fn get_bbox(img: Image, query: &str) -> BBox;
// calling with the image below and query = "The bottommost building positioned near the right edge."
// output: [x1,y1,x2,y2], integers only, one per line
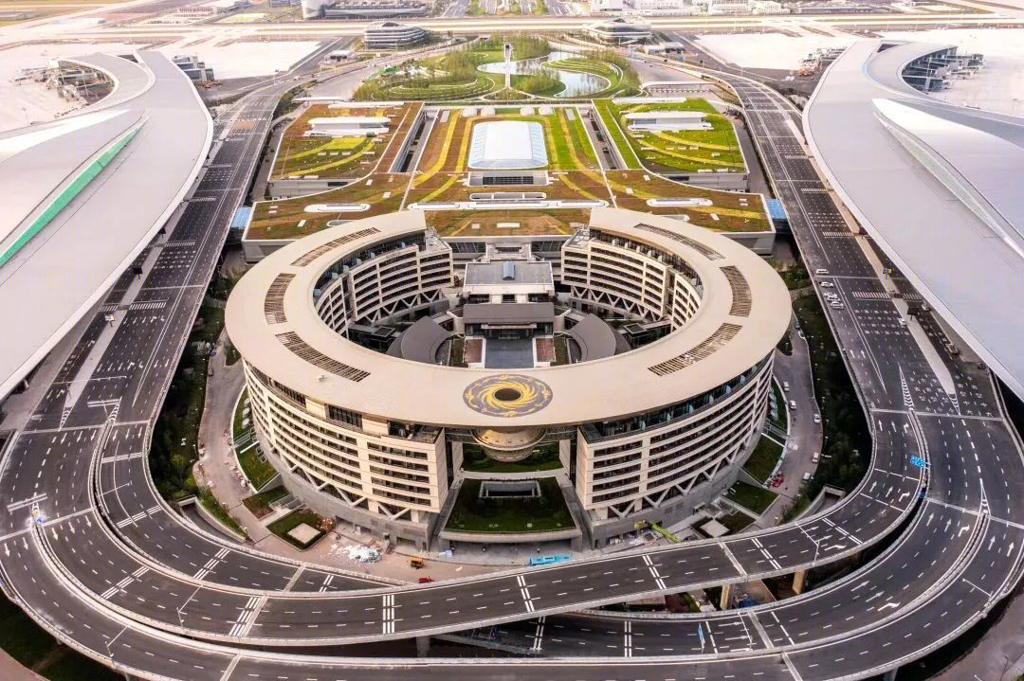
[804,39,1024,447]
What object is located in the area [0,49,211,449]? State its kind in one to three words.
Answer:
building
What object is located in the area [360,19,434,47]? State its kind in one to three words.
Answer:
building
